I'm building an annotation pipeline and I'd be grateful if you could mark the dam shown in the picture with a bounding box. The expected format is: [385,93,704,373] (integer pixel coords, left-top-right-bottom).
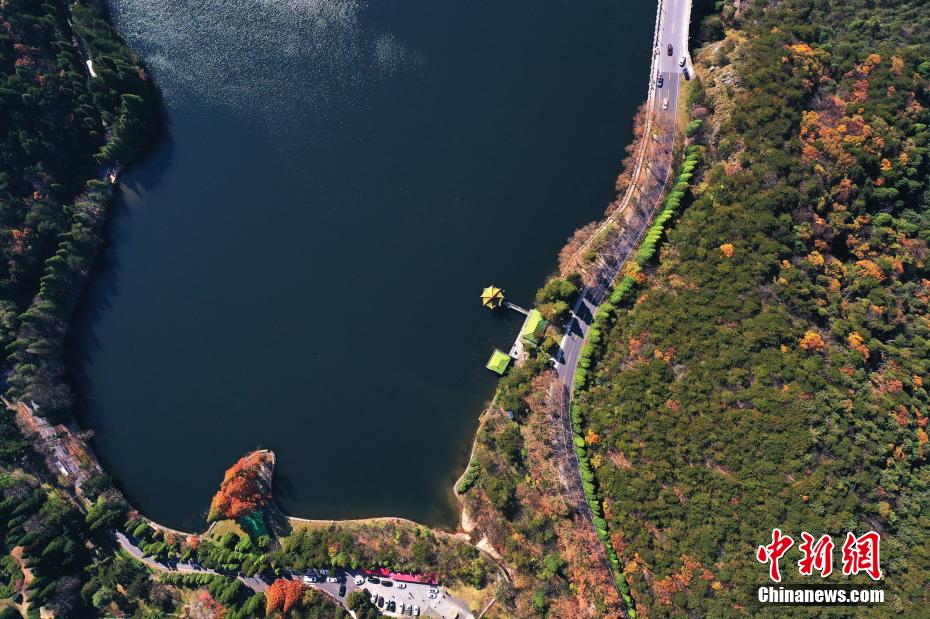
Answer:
[646,0,691,92]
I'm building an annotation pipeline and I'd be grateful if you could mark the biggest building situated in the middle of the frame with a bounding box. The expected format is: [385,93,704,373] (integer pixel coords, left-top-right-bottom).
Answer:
[520,310,549,345]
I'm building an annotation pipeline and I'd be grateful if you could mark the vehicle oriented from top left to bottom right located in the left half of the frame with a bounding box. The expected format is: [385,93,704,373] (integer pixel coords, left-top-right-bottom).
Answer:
[87,61,103,81]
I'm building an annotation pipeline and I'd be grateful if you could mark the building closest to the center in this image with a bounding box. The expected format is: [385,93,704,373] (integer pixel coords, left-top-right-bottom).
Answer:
[480,285,505,309]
